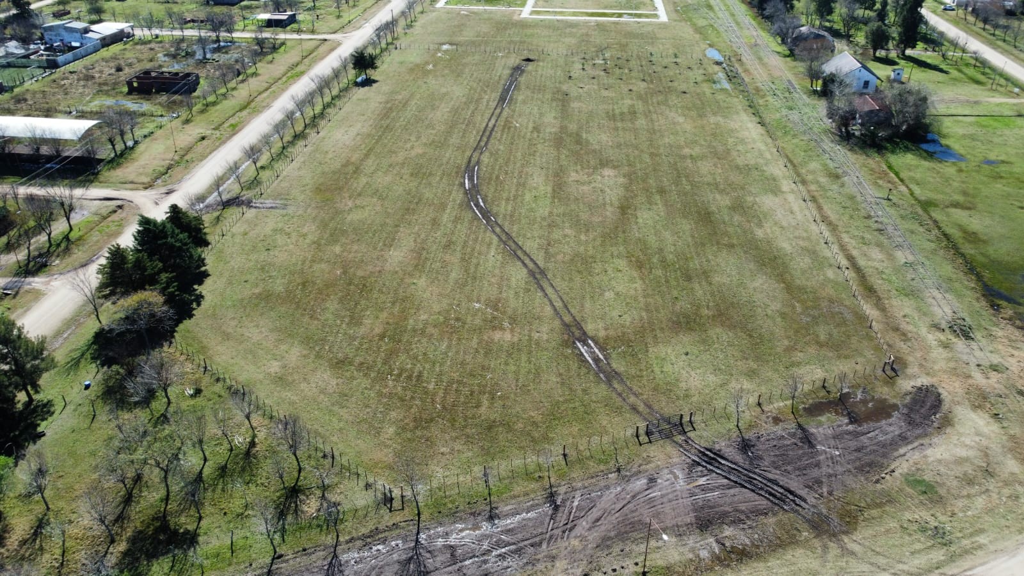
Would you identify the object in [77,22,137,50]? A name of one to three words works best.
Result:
building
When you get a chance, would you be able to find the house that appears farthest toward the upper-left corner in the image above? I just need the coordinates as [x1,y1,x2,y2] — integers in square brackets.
[32,17,102,45]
